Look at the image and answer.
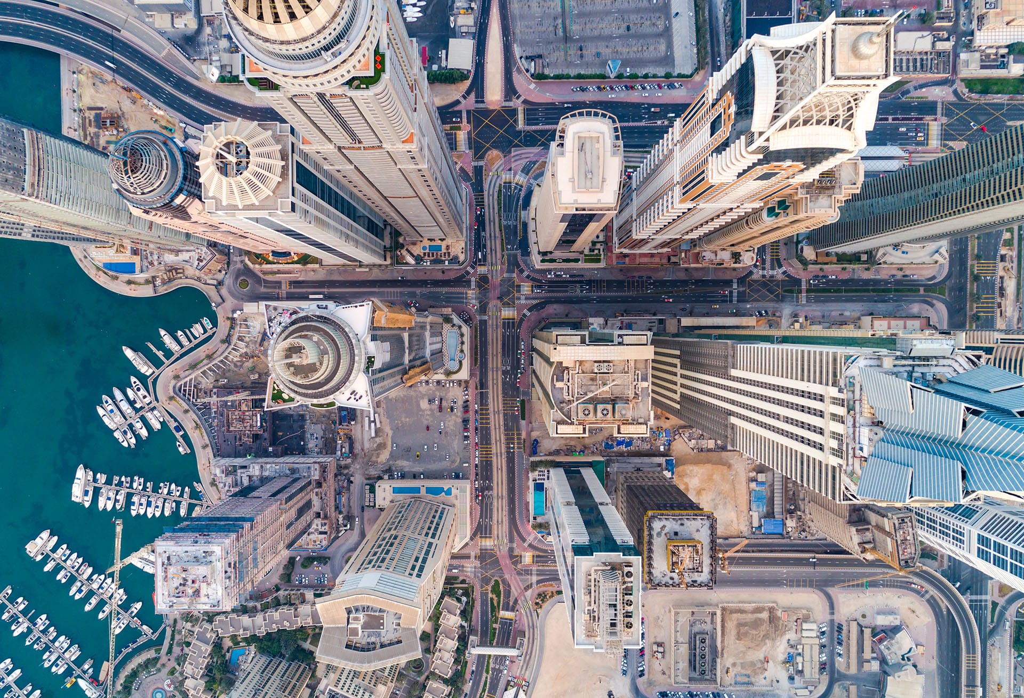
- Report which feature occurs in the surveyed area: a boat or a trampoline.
boat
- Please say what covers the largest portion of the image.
buildings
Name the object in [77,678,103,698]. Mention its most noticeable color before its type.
white boat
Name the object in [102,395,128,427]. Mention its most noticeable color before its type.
white boat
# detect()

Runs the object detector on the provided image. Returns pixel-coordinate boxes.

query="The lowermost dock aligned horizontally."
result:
[88,476,207,519]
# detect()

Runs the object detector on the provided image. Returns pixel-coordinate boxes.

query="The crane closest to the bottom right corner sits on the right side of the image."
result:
[834,543,926,588]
